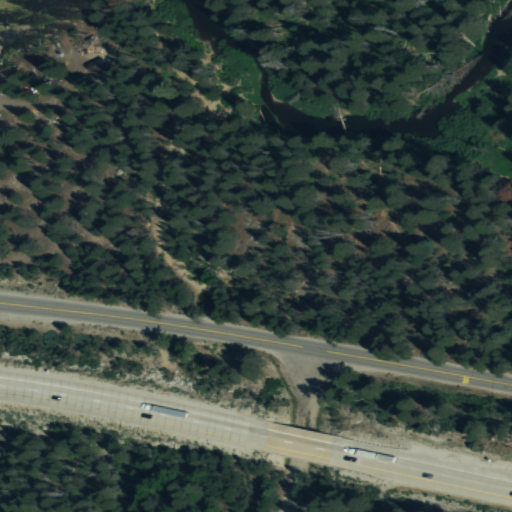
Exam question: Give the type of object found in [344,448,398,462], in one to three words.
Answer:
vehicle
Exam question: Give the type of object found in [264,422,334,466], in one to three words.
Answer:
bridge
